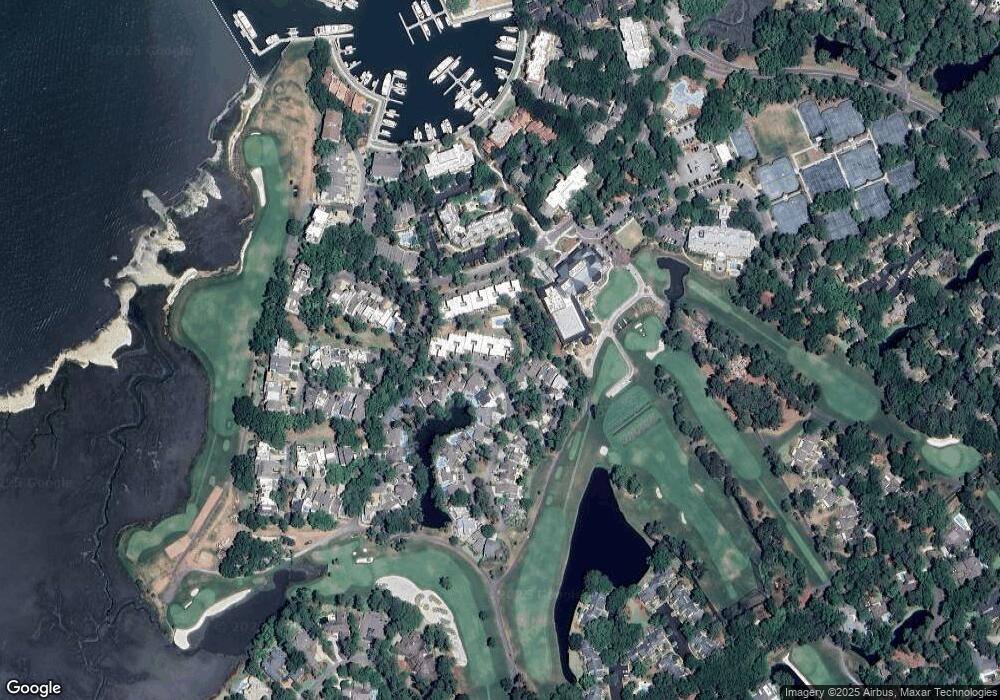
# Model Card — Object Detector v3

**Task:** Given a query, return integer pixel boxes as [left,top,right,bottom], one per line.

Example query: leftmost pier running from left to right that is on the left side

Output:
[234,15,336,56]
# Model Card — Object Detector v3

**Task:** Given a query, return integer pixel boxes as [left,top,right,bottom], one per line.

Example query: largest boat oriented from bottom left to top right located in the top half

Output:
[428,53,457,80]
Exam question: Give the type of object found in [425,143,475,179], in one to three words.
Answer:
building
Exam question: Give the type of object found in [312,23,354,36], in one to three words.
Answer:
boat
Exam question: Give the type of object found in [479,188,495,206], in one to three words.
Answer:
swimming pool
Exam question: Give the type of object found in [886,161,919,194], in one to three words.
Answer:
tennis court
